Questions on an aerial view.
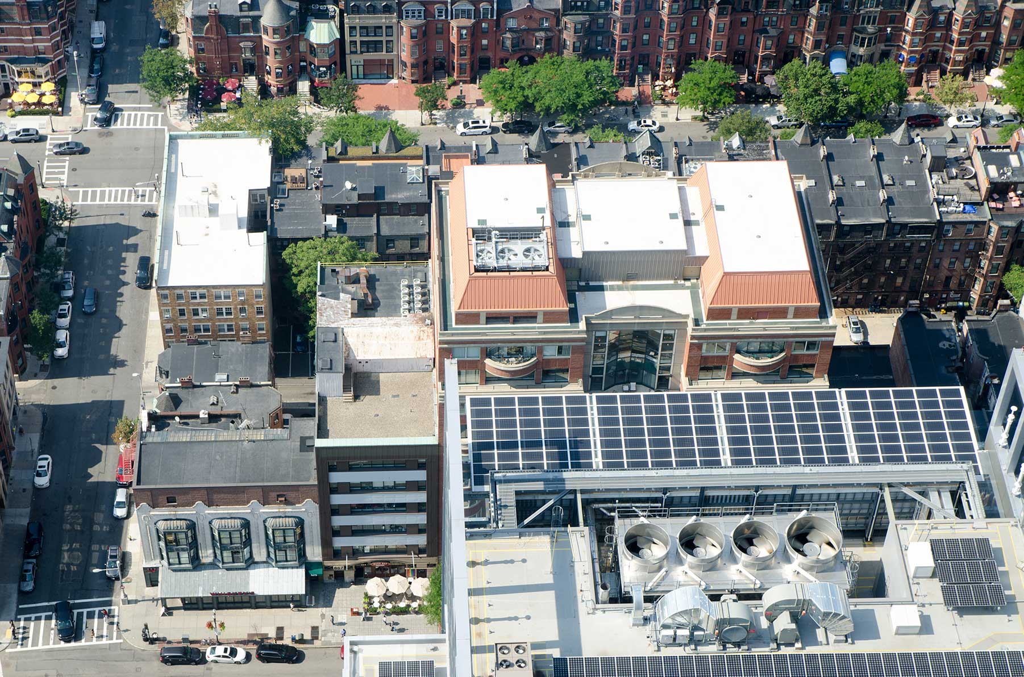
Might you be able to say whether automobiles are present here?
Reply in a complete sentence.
Yes, an automobile appears in the view.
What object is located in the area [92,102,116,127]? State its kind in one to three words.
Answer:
car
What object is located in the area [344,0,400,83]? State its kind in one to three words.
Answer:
building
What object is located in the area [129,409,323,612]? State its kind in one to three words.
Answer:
building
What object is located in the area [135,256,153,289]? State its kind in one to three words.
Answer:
vehicle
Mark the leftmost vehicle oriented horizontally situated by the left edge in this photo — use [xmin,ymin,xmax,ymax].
[7,127,41,144]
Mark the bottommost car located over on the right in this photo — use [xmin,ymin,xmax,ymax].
[843,313,864,343]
